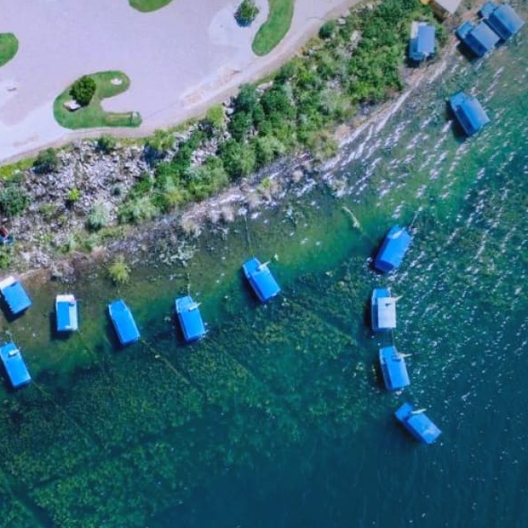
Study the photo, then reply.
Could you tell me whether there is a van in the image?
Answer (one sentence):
No, this view has no van in it.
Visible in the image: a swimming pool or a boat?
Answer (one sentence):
Looking from above, you can make out a boat.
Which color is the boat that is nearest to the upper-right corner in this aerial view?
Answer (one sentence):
From above, the boat that is nearest to the upper-right corner appears blue.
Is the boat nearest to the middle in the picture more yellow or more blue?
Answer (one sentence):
The boat nearest to the middle is blue.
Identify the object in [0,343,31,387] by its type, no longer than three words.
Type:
boat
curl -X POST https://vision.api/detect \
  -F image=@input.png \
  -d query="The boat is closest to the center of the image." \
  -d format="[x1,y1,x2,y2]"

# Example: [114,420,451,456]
[244,254,286,300]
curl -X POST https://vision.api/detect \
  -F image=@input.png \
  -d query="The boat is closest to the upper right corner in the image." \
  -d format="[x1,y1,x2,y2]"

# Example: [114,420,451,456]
[481,0,528,43]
